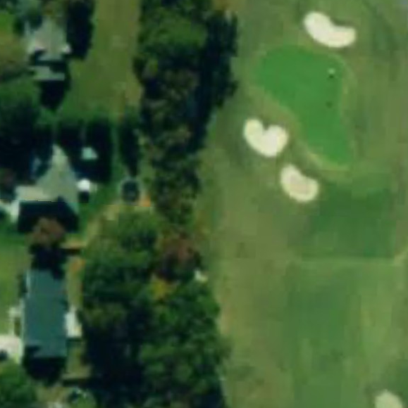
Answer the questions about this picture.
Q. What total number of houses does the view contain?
3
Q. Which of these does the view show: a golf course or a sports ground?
golf course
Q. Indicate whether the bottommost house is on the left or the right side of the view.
left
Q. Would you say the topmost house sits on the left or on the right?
left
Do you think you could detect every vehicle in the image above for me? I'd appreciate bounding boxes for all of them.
[0,349,8,357]
[0,207,5,216]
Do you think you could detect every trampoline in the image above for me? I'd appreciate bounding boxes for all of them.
[121,179,139,197]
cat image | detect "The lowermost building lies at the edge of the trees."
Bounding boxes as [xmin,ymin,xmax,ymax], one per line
[23,267,80,357]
